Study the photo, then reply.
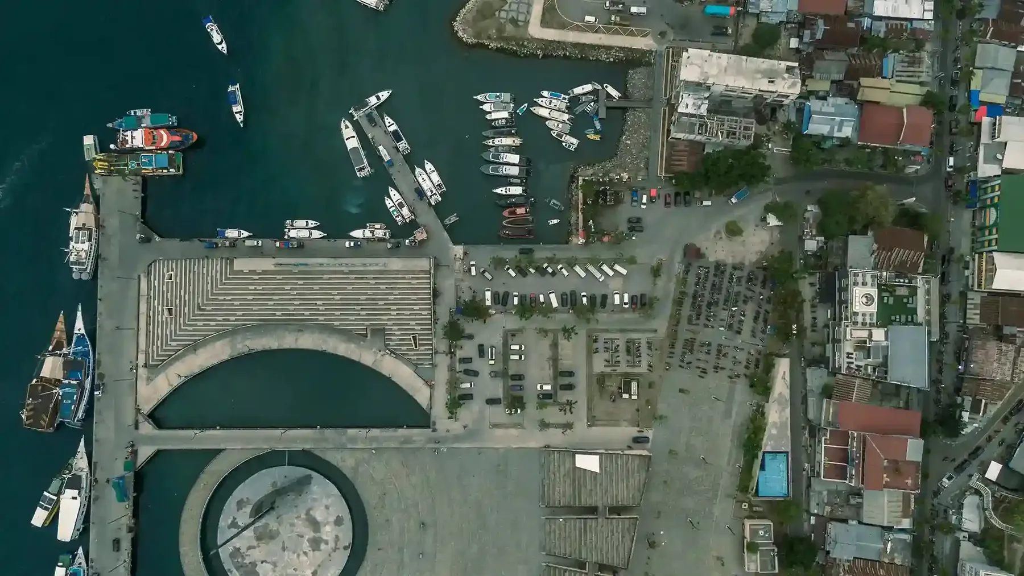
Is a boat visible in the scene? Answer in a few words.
Yes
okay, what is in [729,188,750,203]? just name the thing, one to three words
vehicle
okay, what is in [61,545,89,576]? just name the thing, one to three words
vessel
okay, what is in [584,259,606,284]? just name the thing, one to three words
truck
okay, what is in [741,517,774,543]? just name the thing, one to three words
building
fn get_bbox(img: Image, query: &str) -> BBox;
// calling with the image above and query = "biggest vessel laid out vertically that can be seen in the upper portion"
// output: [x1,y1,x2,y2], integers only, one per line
[65,173,101,280]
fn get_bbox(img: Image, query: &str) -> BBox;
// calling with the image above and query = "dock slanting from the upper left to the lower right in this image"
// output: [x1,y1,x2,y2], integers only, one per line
[353,108,455,249]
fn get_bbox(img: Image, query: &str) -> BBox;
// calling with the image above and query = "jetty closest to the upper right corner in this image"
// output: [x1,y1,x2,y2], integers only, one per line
[598,89,652,119]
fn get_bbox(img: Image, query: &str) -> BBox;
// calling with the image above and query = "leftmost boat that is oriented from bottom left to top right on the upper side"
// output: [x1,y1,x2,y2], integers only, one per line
[349,89,392,119]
